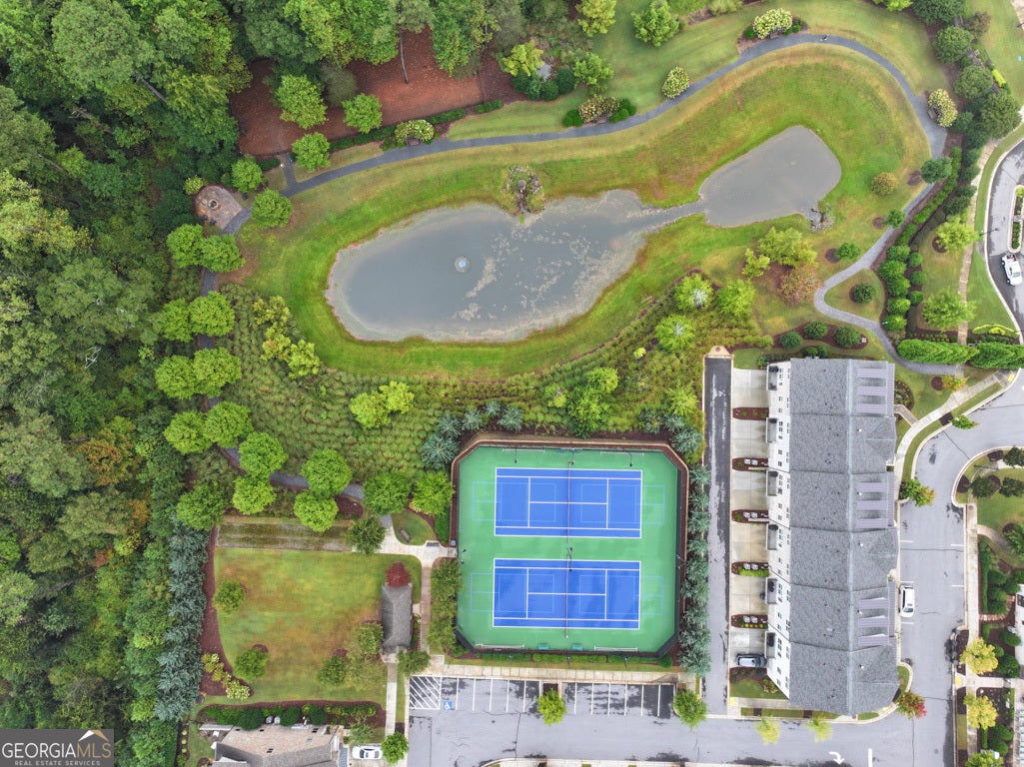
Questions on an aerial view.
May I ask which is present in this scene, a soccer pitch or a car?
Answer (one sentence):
Of the two, only a car appears.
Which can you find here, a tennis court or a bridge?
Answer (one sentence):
Visible in the photo is a tennis court.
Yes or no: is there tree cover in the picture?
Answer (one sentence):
Yes, the picture does contain tree cover.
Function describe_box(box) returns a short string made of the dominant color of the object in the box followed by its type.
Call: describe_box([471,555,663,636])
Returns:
blue tennis court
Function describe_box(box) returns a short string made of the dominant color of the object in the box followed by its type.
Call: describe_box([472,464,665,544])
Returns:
blue tennis court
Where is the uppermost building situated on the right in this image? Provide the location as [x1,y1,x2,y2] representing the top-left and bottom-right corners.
[767,358,896,415]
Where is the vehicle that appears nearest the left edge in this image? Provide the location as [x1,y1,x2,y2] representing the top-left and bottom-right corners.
[351,745,381,761]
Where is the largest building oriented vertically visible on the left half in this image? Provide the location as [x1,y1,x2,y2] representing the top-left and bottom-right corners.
[381,579,414,654]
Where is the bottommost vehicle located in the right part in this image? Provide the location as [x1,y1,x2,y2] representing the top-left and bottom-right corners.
[738,654,768,670]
